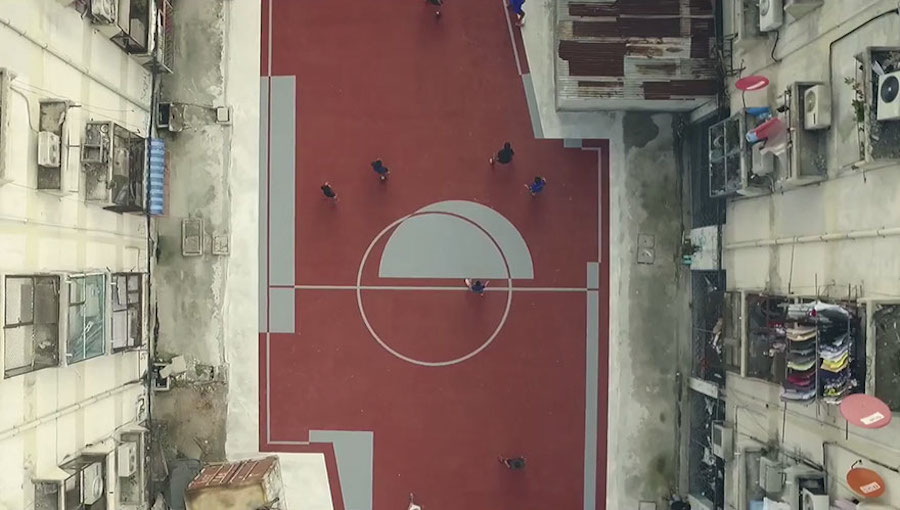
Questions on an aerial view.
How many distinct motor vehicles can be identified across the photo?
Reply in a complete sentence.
The count of motor vehicles is 0.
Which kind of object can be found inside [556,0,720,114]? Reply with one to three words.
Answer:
shed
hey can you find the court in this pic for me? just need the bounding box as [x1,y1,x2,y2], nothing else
[258,0,610,510]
